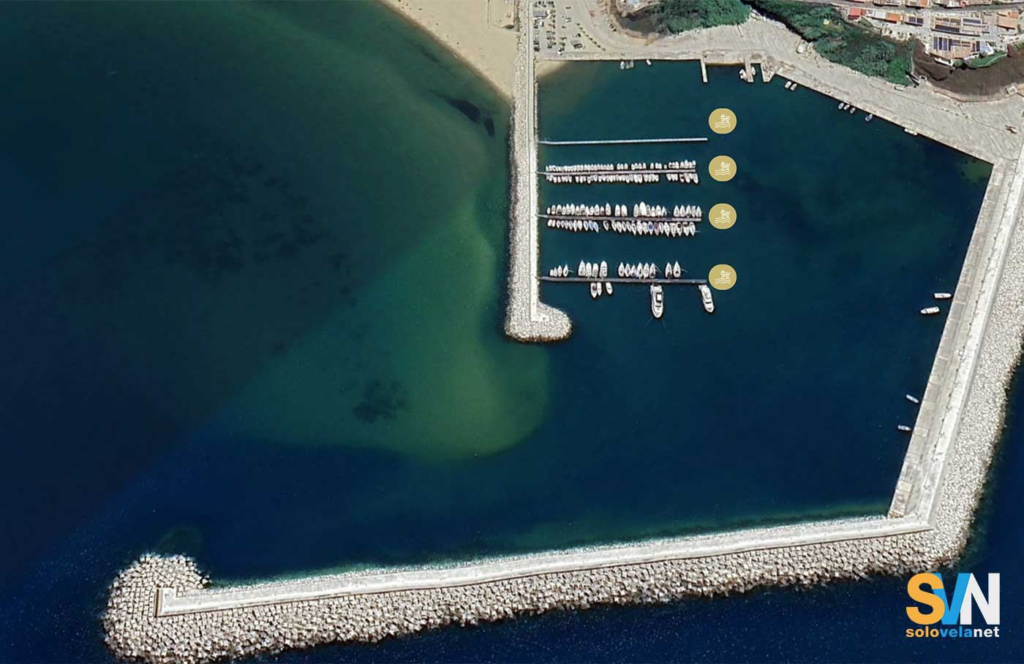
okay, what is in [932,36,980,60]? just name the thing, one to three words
building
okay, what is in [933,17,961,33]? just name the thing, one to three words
house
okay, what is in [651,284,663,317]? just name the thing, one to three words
boat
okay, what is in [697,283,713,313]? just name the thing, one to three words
boat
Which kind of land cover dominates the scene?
water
